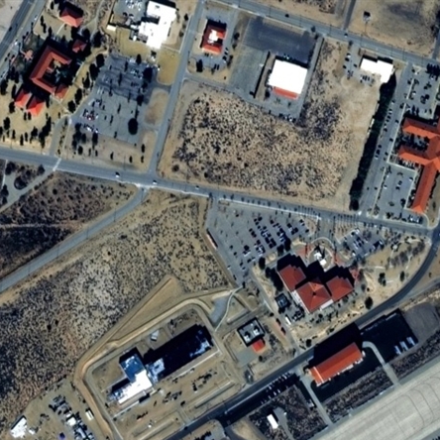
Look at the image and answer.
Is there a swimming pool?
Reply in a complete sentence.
No, the scene contains no swimming pool.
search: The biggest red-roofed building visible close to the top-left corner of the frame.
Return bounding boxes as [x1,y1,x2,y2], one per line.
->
[25,43,73,95]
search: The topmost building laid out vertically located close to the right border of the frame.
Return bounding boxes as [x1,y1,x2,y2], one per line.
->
[399,118,440,214]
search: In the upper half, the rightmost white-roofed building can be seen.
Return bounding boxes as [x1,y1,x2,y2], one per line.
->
[360,58,395,83]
